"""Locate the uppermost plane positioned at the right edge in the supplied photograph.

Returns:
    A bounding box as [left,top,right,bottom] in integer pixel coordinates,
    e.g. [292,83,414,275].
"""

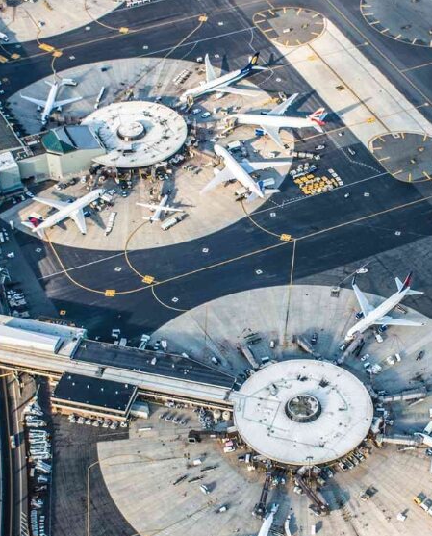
[347,272,431,339]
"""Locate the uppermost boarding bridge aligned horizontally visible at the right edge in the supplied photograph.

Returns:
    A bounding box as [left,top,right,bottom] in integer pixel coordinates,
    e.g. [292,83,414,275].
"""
[372,383,429,408]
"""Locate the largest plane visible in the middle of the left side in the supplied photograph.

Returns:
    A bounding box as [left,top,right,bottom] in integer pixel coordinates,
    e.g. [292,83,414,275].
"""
[19,188,104,234]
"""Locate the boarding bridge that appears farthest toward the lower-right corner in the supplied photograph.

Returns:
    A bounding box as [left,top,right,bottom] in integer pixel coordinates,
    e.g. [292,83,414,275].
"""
[374,433,422,449]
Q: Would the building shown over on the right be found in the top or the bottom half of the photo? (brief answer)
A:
bottom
